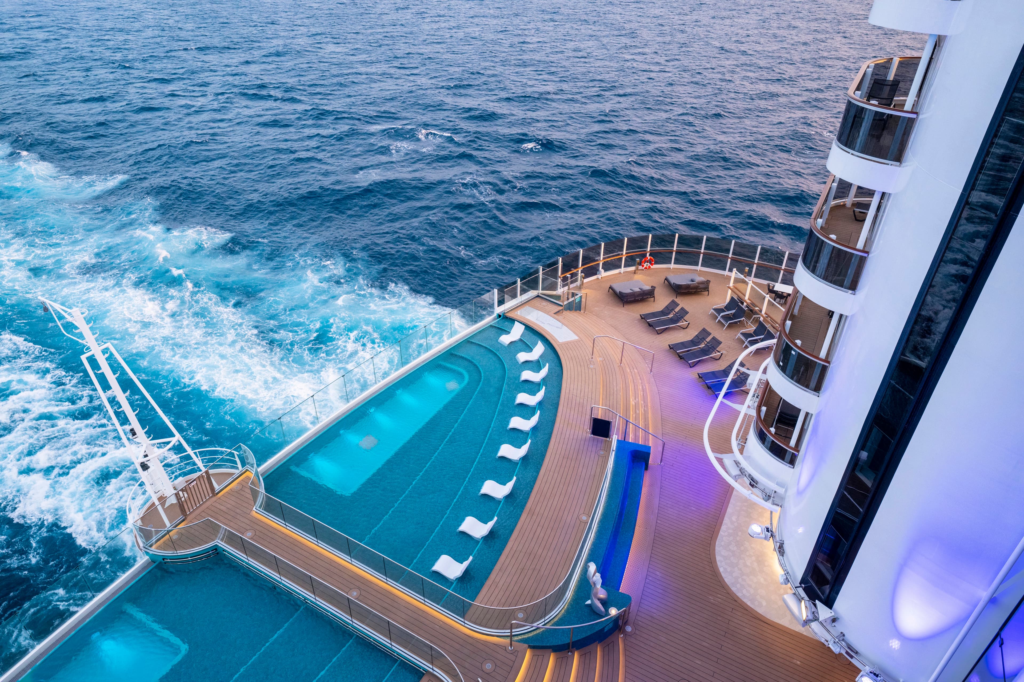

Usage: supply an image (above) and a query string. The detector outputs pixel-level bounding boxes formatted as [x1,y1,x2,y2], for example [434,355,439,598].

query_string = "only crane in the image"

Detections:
[37,296,217,525]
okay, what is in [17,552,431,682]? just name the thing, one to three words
swimming pool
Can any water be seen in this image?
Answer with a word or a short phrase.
Yes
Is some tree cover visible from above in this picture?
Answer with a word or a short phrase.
No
